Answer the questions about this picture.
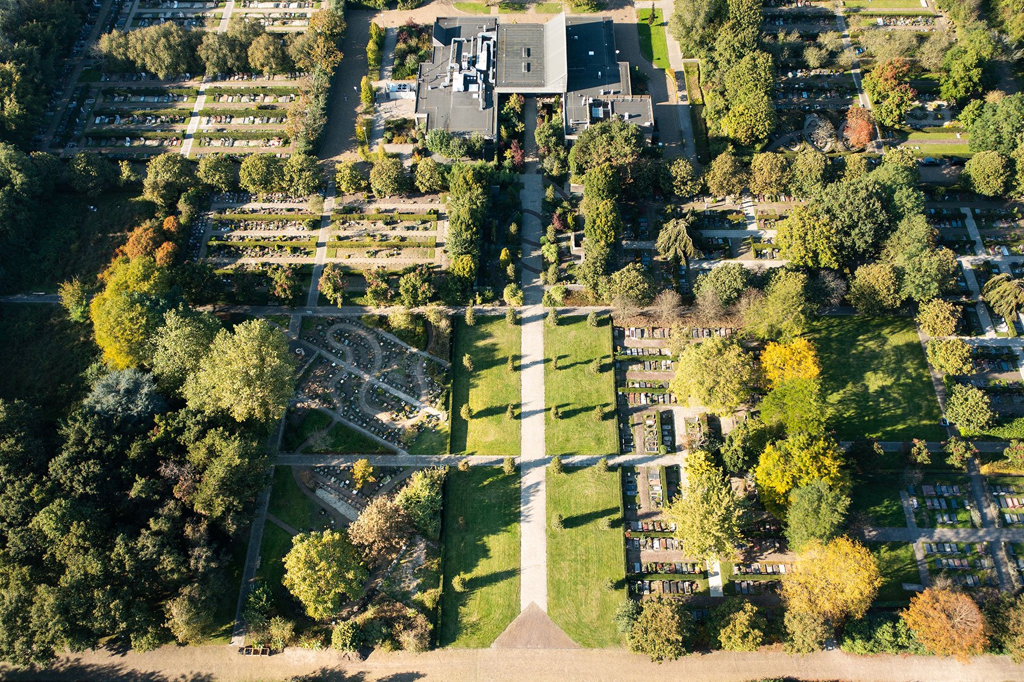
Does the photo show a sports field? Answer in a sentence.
No, I can see no sports field in this picture.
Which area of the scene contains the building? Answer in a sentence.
You can find the building in the top area of the picture.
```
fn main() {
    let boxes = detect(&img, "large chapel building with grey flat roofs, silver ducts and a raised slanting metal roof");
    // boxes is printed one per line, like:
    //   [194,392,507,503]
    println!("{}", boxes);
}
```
[416,9,654,150]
